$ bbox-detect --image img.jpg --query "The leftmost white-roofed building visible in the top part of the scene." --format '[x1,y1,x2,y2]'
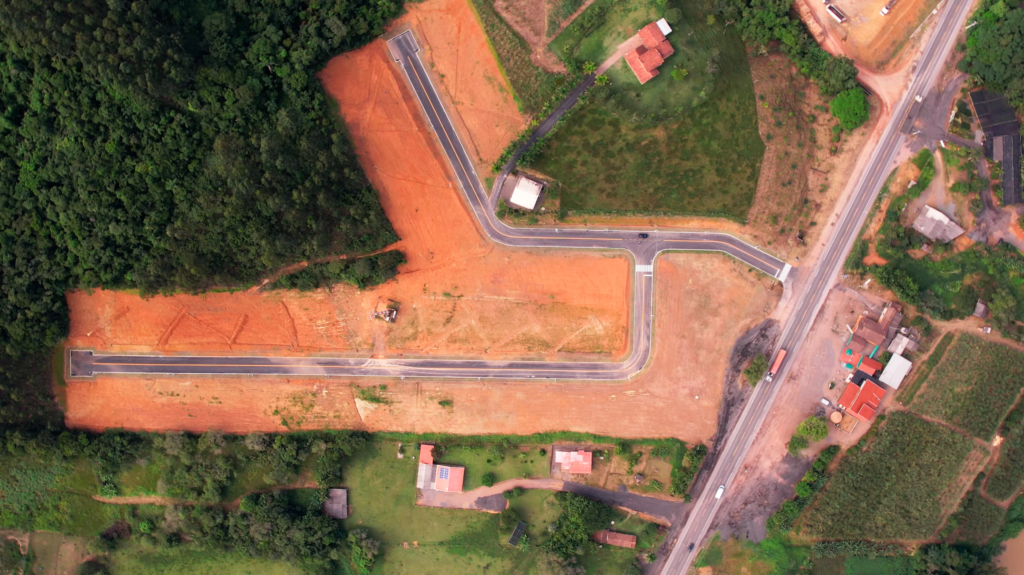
[510,176,543,209]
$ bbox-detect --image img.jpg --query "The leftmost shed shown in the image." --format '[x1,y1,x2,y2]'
[322,488,348,519]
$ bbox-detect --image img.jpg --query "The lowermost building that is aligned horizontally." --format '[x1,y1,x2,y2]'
[592,529,636,549]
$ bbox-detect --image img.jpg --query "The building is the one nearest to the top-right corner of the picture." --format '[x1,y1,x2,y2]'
[967,89,1019,140]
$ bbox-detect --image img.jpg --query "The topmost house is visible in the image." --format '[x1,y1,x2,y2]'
[625,18,675,85]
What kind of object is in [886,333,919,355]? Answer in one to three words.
house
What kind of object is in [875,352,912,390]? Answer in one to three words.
building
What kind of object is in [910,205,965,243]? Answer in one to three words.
building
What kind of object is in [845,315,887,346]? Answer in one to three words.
house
